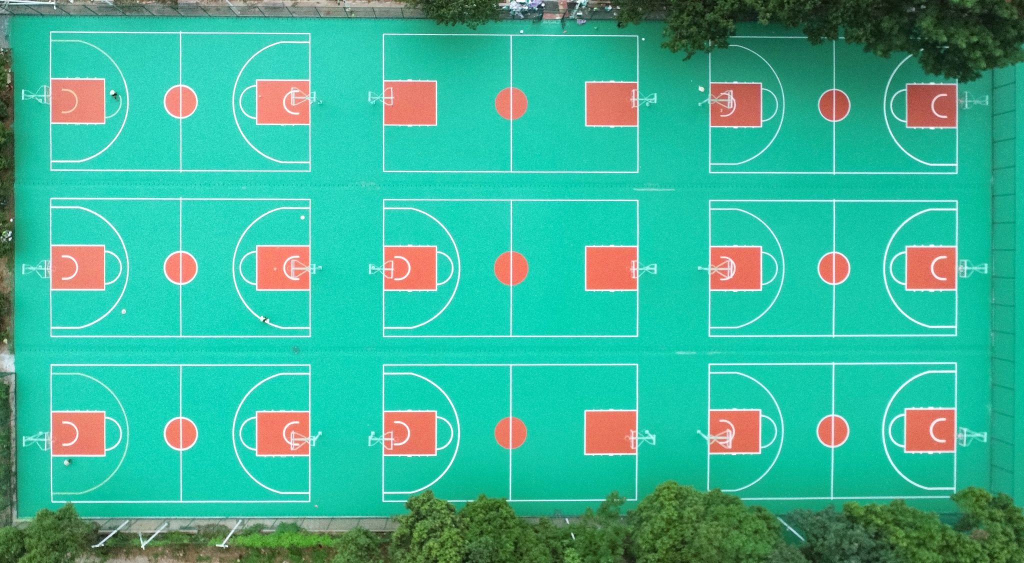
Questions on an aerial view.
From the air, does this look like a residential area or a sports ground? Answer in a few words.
sports ground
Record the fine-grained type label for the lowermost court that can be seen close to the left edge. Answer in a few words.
basketball court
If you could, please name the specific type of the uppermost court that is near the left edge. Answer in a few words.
basketball court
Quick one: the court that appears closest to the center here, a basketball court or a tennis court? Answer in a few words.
basketball court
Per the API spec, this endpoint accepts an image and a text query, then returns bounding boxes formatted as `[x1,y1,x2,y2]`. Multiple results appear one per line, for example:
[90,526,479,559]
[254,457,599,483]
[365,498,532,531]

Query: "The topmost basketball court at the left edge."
[50,32,311,172]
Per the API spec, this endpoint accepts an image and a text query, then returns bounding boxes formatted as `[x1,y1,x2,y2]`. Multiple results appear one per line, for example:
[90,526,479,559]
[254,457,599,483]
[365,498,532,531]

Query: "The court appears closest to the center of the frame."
[383,199,638,337]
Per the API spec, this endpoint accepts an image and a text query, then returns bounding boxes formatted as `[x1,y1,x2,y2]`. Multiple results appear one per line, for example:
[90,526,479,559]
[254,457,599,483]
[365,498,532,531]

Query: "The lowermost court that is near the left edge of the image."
[51,364,310,503]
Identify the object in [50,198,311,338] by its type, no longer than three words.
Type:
basketball court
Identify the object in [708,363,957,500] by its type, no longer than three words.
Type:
basketball court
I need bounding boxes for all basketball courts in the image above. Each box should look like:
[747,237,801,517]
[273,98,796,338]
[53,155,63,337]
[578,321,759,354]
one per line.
[383,199,638,337]
[383,34,638,173]
[709,200,958,337]
[383,364,638,502]
[709,36,958,174]
[50,198,311,338]
[51,364,310,503]
[708,363,957,500]
[50,32,311,172]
